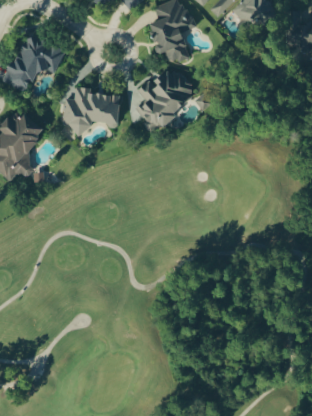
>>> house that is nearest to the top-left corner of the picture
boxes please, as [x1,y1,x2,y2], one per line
[1,37,64,87]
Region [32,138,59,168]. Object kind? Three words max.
swimming pool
